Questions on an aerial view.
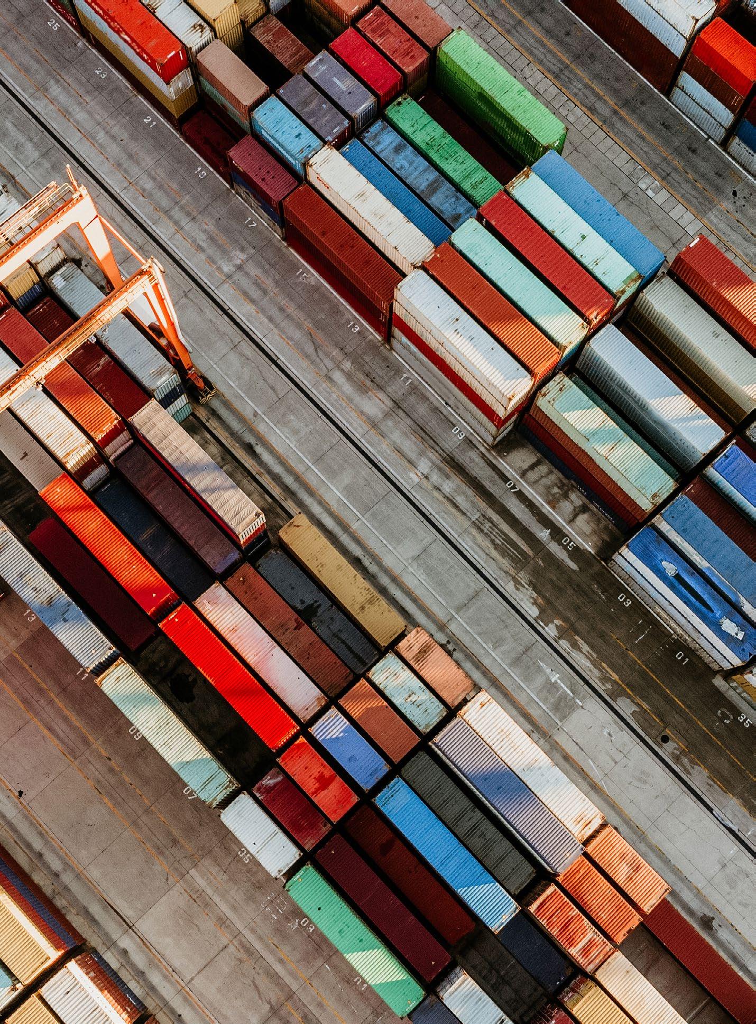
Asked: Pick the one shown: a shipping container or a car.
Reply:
shipping container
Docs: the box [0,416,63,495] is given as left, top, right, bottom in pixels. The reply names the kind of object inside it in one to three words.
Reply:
shipping container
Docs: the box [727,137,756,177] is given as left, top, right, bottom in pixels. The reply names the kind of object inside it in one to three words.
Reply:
shipping container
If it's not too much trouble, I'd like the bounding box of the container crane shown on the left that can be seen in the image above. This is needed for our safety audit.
[0,143,222,423]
